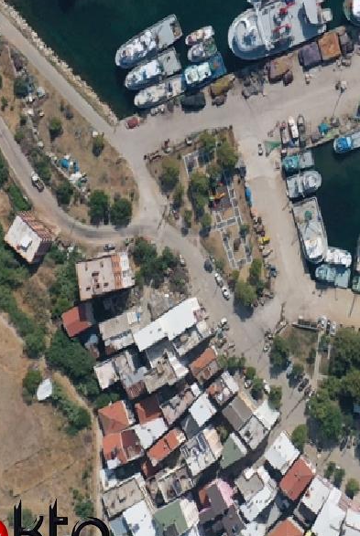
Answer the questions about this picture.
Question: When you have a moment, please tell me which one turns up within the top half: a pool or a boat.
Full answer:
Visible within the top half is a boat.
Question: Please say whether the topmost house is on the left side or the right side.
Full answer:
The topmost house appears in the left half of the scene.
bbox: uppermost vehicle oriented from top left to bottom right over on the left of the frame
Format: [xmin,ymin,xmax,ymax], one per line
[27,170,47,194]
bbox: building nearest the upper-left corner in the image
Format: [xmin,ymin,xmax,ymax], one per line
[4,214,52,263]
